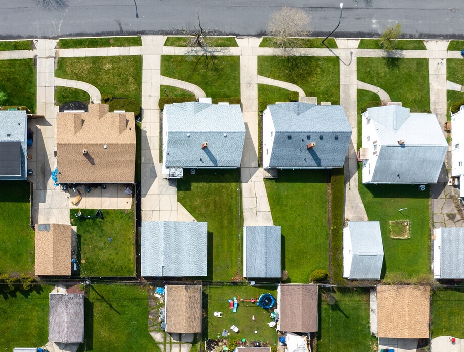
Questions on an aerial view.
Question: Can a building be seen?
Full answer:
Yes, a building is visible in the scene.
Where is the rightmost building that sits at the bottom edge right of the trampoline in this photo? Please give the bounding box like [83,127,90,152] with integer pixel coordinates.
[371,286,430,339]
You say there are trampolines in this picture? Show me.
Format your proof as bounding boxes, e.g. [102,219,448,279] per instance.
[258,293,277,310]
